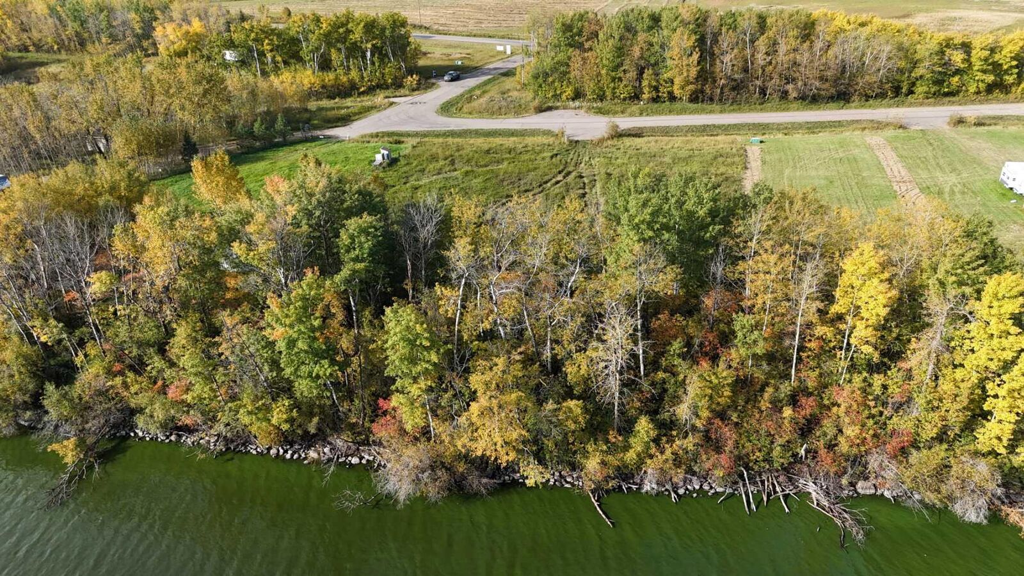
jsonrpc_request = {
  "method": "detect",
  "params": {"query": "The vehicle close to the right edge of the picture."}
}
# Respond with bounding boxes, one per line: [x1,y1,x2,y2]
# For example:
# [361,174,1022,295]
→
[1002,164,1024,197]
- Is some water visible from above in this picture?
Yes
